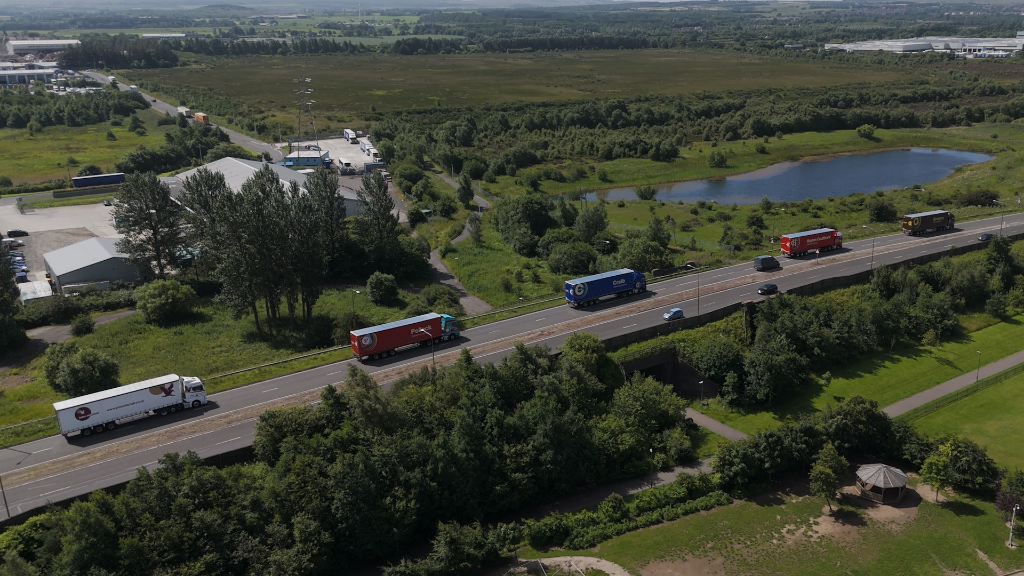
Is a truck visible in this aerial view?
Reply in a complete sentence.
Yes, this view includes a truck.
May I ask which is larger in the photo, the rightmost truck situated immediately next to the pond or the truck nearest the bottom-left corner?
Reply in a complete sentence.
Compared with the rightmost truck situated immediately next to the pond, the truck nearest the bottom-left corner is the larger one.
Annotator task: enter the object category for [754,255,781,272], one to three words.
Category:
vehicle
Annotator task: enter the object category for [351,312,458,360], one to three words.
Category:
truck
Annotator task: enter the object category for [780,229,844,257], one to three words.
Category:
truck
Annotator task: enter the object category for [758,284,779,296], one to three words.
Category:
vehicle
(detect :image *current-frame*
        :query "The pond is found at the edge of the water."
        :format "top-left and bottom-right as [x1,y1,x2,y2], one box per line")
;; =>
[570,149,989,203]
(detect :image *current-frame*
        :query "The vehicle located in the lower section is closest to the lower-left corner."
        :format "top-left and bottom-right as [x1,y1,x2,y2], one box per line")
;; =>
[53,375,206,438]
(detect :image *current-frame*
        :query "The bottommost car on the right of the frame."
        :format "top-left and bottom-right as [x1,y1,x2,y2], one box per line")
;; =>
[662,307,686,321]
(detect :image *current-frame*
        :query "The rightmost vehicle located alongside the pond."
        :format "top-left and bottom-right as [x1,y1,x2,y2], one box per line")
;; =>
[901,210,958,235]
